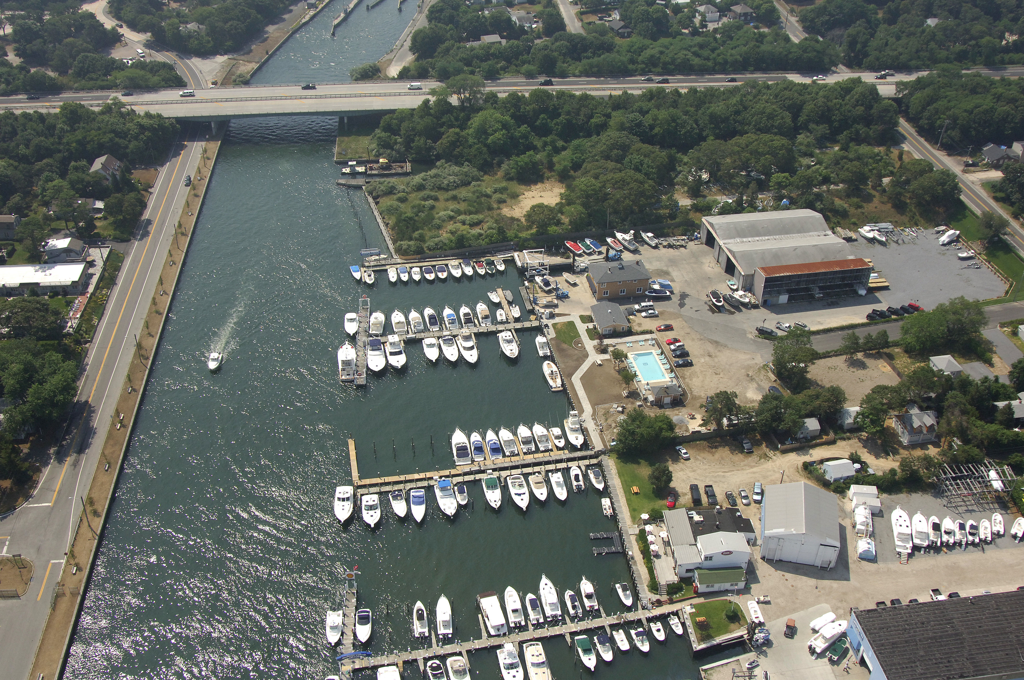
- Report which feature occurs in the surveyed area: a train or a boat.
boat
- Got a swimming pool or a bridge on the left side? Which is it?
bridge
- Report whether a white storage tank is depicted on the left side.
No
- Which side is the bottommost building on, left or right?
right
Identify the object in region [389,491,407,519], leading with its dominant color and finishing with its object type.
white boat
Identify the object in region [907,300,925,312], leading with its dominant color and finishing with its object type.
red vehicle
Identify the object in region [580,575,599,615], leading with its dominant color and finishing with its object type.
white boat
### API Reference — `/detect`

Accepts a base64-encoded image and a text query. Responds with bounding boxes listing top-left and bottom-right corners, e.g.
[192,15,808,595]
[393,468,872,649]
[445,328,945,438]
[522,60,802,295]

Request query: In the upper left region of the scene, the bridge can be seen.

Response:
[127,76,411,136]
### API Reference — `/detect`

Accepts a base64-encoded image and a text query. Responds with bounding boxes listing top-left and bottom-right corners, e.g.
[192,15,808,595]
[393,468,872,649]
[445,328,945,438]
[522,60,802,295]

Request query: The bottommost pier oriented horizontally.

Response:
[352,600,653,676]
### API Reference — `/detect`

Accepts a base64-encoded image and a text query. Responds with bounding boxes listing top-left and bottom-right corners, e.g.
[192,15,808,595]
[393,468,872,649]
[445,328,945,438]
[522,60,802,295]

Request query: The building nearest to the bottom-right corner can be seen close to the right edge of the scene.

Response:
[844,588,1024,680]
